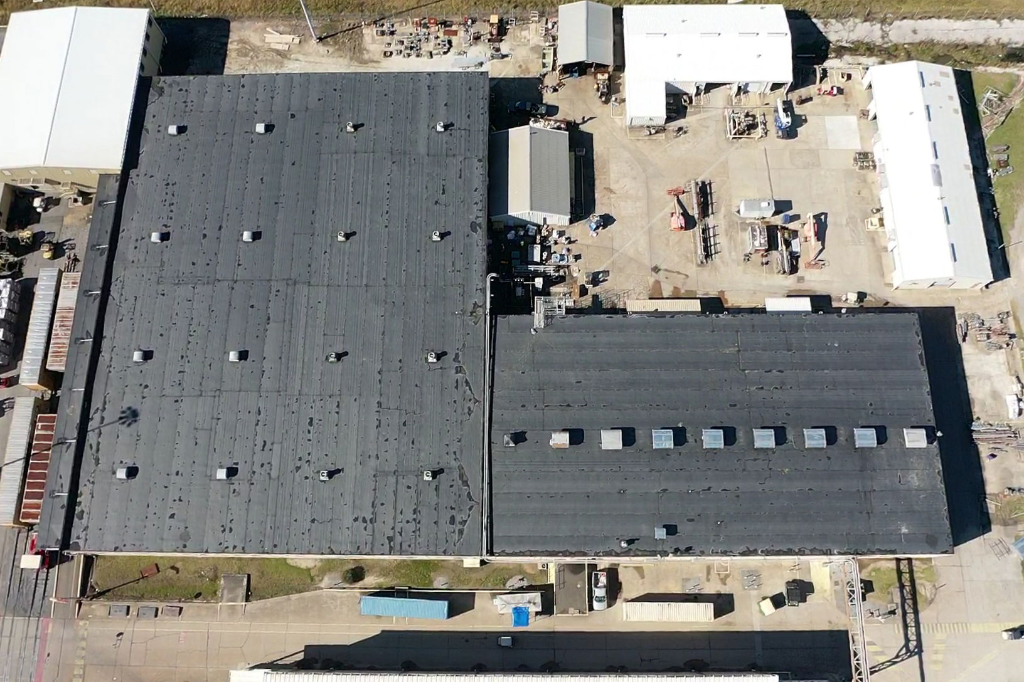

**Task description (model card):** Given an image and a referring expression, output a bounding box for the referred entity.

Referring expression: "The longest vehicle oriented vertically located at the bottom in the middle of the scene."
[592,569,608,613]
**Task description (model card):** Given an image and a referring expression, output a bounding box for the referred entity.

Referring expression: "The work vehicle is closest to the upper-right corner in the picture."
[816,84,840,99]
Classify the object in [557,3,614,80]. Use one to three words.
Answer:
shed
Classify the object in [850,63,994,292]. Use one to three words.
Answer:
building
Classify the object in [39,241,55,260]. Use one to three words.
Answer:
work vehicle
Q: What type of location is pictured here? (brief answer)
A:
industrial area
